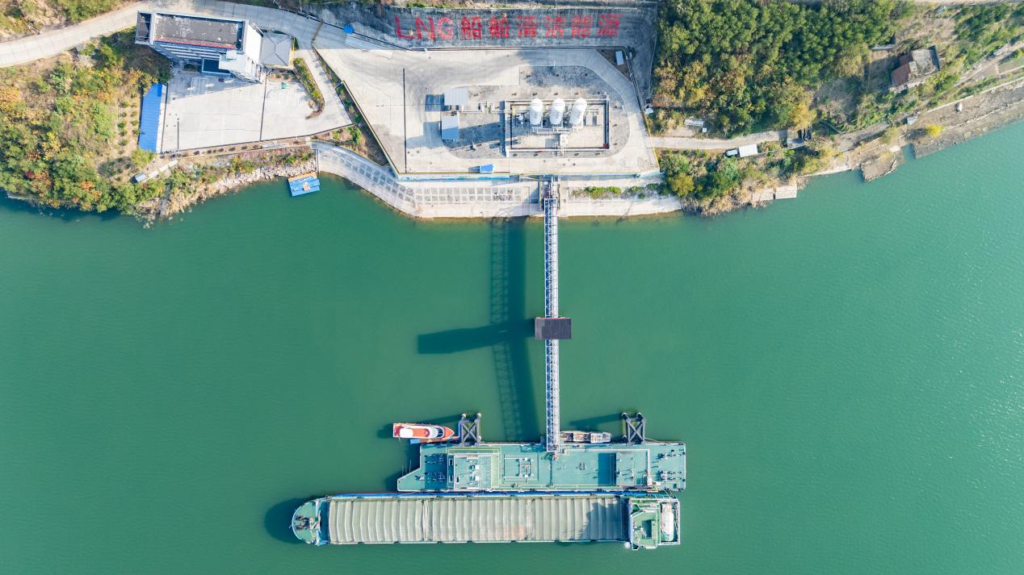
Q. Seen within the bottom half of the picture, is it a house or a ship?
ship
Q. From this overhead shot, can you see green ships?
No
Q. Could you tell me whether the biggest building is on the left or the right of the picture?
left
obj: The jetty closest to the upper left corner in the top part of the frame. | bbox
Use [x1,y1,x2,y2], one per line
[288,172,320,196]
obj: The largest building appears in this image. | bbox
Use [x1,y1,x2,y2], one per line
[133,8,264,84]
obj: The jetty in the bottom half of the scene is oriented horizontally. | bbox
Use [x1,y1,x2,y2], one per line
[397,440,687,493]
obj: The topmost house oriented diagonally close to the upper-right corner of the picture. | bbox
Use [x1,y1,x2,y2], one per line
[879,45,942,92]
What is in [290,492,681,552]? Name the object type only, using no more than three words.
ship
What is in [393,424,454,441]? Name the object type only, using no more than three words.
boat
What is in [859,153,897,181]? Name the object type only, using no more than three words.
pier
